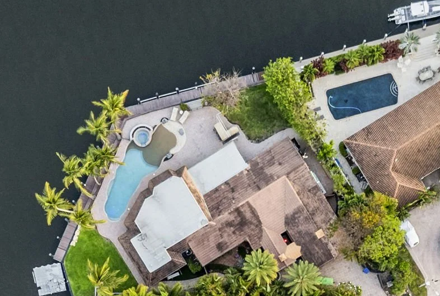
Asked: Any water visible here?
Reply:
Yes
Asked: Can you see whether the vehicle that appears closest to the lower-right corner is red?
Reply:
No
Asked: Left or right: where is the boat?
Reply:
right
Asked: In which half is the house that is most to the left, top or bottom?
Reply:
bottom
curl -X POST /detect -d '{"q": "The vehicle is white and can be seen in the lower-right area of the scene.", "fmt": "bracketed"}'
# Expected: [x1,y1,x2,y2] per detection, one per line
[402,219,424,248]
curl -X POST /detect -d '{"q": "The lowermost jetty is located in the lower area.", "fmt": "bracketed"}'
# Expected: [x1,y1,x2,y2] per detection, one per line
[35,263,68,296]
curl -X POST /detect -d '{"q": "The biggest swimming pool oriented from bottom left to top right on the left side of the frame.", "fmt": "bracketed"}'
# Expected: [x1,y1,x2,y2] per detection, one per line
[103,121,179,224]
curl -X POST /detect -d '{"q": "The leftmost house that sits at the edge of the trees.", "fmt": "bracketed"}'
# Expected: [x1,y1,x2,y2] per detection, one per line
[118,136,338,288]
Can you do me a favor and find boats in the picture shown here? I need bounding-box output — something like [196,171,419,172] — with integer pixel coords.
[385,0,440,26]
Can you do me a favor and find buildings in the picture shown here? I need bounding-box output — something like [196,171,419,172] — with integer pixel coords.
[343,80,440,205]
[118,136,338,288]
